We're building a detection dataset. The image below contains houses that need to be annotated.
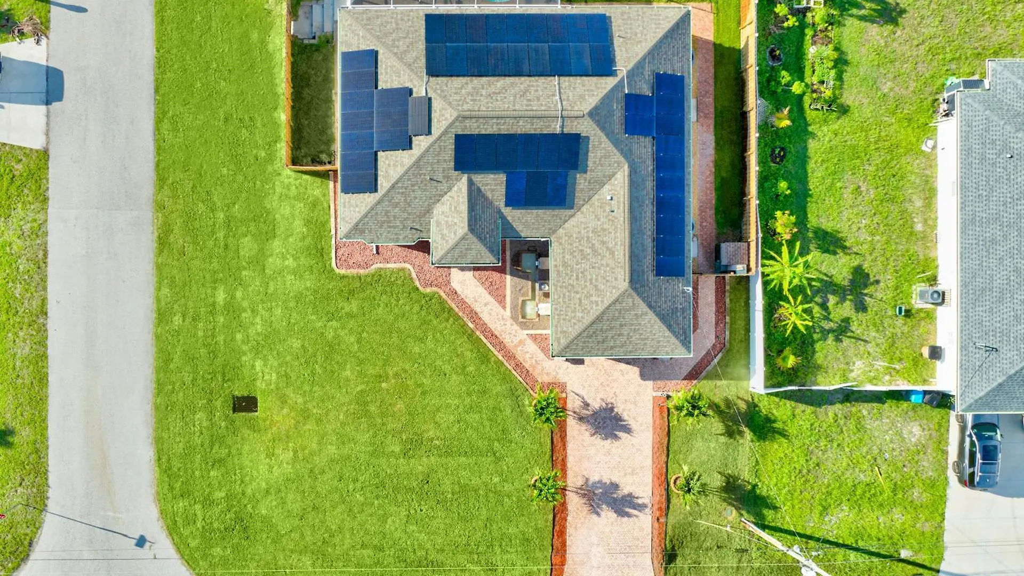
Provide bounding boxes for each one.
[337,6,695,357]
[938,60,1024,412]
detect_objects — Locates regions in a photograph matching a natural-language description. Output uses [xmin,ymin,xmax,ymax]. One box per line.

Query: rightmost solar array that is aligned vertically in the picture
[624,73,684,277]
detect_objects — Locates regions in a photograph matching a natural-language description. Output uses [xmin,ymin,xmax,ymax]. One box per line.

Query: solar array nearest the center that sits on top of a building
[455,133,580,207]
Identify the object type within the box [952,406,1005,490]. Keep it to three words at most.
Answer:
car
